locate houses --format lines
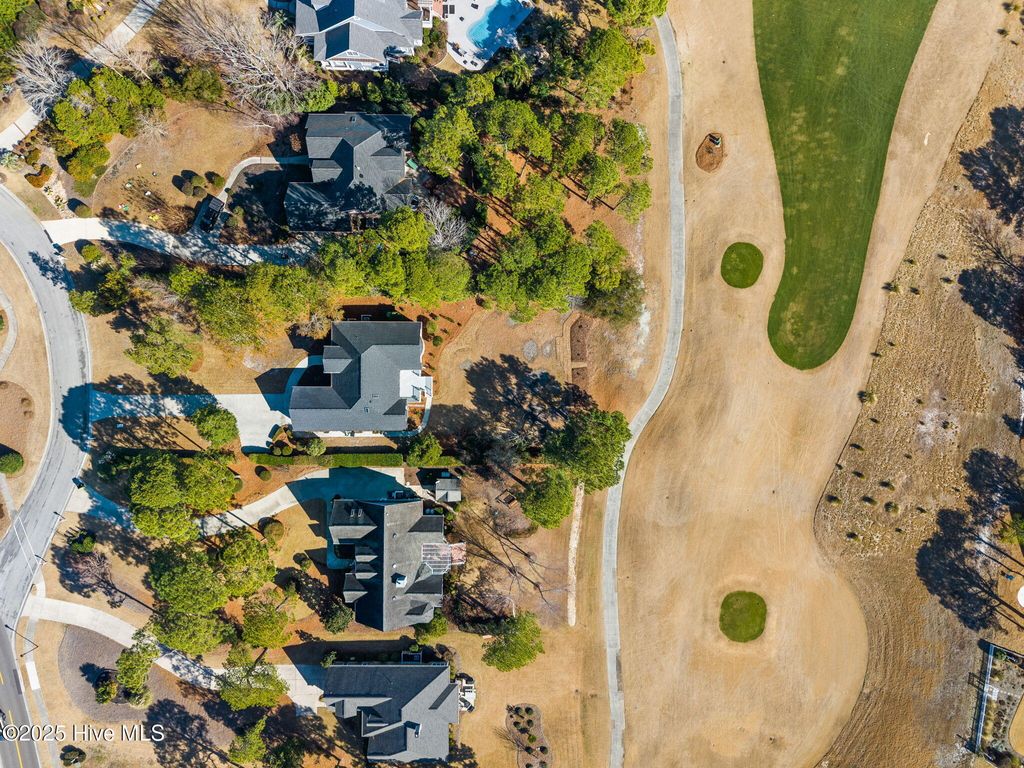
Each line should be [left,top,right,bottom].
[322,499,453,636]
[283,321,432,431]
[295,0,436,69]
[277,113,419,232]
[322,659,459,762]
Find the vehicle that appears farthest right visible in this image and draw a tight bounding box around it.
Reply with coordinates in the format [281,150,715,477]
[196,191,223,234]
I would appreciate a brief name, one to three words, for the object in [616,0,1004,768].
golf course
